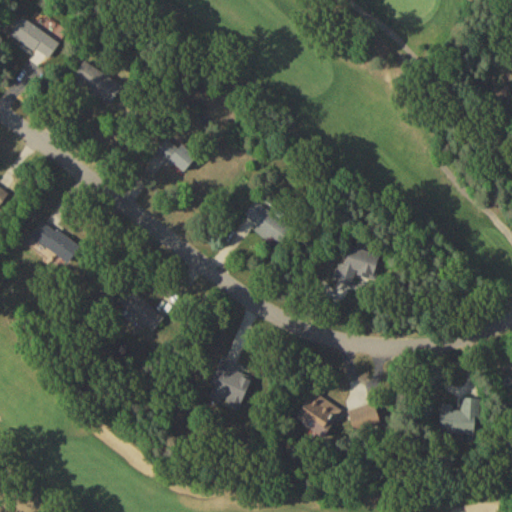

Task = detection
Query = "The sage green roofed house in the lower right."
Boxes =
[440,397,480,432]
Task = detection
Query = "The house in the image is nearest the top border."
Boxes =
[14,20,58,58]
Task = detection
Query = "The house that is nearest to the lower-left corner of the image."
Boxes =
[118,297,161,337]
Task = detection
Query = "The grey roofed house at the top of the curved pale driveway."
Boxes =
[247,203,290,240]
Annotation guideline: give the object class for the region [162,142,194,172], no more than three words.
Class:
house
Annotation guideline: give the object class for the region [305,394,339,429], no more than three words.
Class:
house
